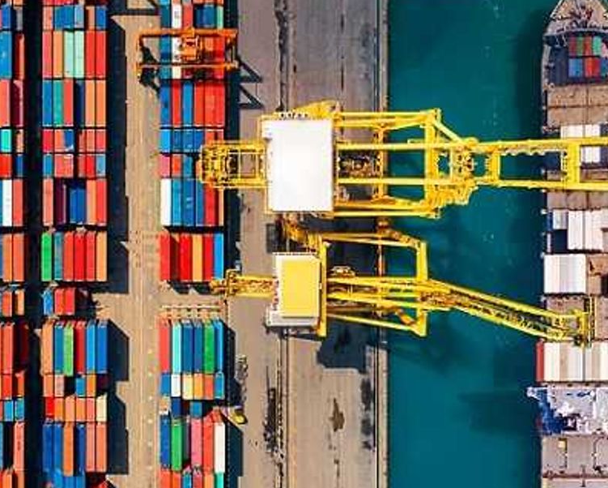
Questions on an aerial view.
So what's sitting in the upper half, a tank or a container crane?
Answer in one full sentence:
It is a container crane that can be seen in the upper half.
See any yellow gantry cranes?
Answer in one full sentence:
Yes, there is a yellow gantry crane in the image.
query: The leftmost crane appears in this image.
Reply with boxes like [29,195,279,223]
[133,25,237,88]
